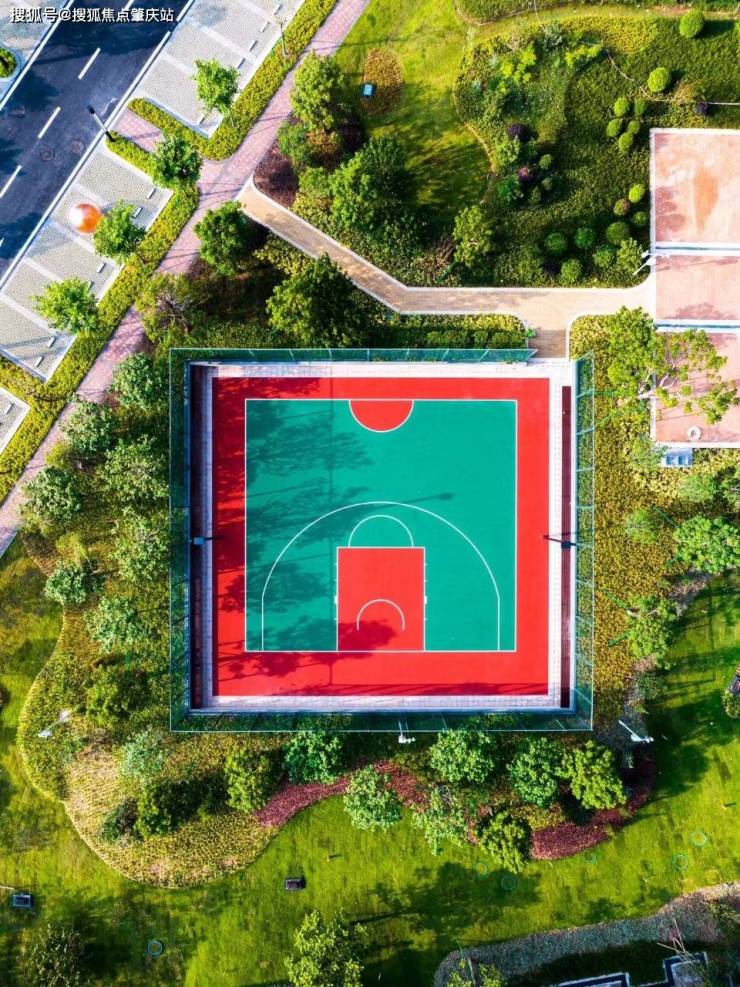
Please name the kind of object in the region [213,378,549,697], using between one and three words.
basketball court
